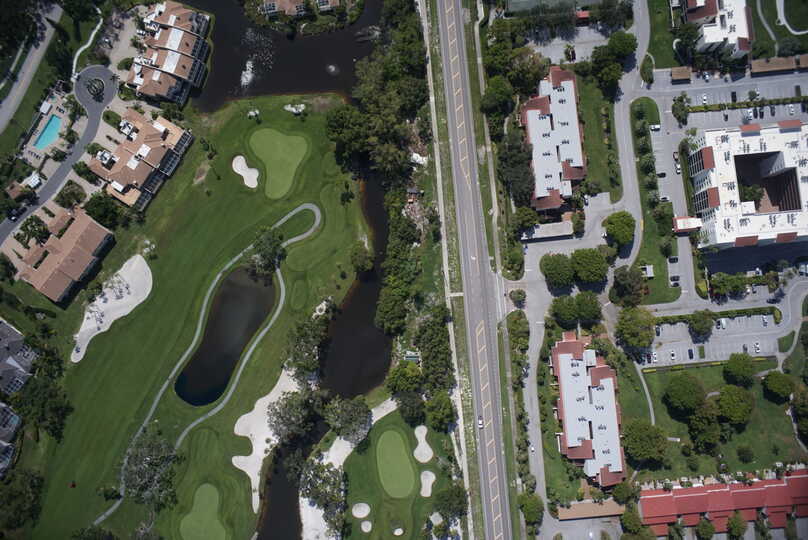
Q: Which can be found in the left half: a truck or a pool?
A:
pool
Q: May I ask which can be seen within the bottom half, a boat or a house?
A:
house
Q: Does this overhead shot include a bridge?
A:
No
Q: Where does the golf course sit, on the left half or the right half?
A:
left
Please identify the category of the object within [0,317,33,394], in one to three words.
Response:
house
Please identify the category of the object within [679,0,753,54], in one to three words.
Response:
building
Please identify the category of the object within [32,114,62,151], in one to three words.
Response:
swimming pool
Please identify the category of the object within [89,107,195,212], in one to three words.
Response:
house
